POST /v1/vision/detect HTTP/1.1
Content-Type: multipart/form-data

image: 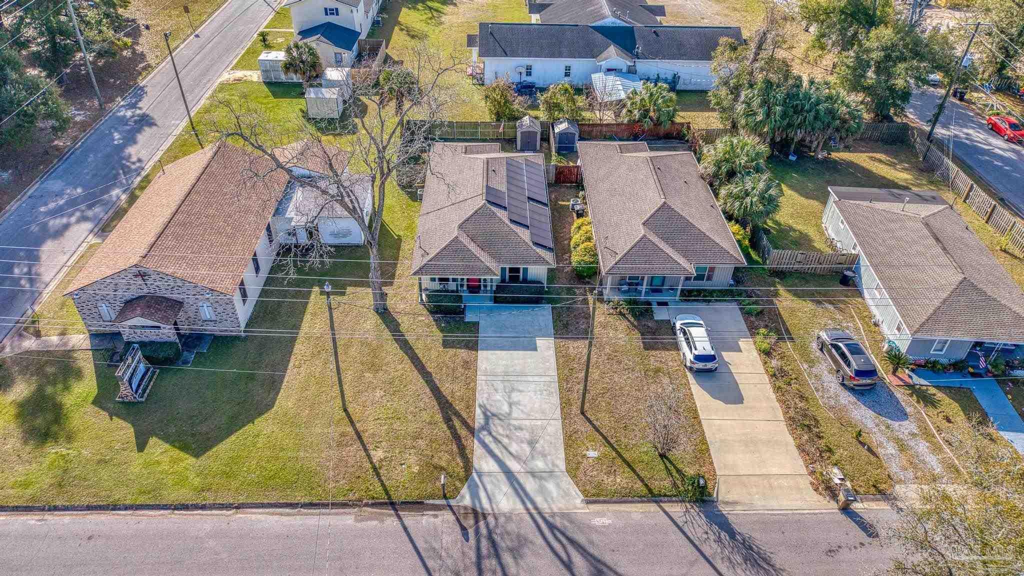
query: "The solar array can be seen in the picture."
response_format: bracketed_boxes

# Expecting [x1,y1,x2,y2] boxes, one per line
[485,160,553,251]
